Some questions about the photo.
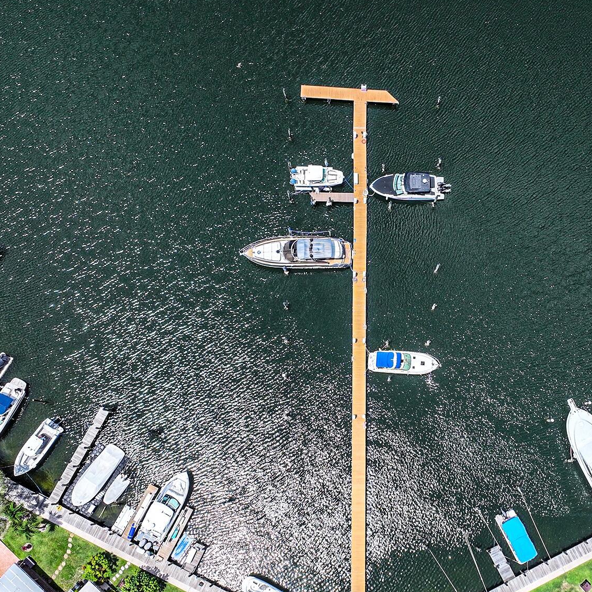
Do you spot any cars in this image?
No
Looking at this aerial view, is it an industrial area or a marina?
marina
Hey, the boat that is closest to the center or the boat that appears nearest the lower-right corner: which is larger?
the boat that is closest to the center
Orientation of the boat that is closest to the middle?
from side to side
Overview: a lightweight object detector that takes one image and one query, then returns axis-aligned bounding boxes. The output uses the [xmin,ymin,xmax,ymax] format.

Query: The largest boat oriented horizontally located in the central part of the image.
[239,236,353,267]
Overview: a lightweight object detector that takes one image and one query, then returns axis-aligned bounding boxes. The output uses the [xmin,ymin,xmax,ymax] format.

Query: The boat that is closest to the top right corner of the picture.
[369,175,445,202]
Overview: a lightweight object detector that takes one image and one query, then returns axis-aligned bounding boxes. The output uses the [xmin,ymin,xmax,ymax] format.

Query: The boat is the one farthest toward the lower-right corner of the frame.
[497,508,538,566]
